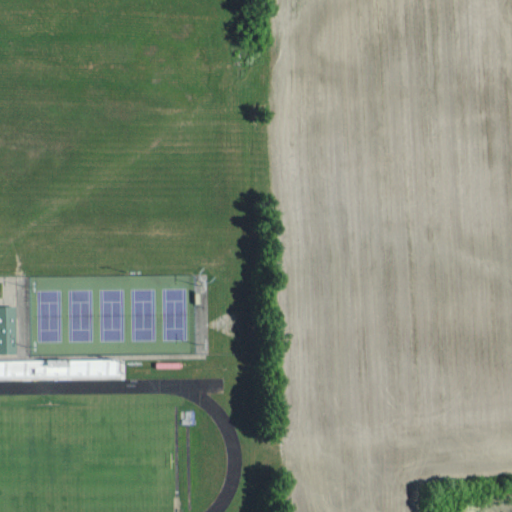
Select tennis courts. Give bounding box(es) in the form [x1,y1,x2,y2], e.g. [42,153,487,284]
[100,290,126,342]
[38,290,64,342]
[130,290,156,342]
[162,289,189,342]
[68,290,93,342]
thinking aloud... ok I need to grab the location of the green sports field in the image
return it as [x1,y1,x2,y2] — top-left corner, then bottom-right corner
[0,394,176,512]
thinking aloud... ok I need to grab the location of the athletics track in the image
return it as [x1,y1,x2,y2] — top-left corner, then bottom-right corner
[0,378,242,512]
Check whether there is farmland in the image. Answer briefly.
Yes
